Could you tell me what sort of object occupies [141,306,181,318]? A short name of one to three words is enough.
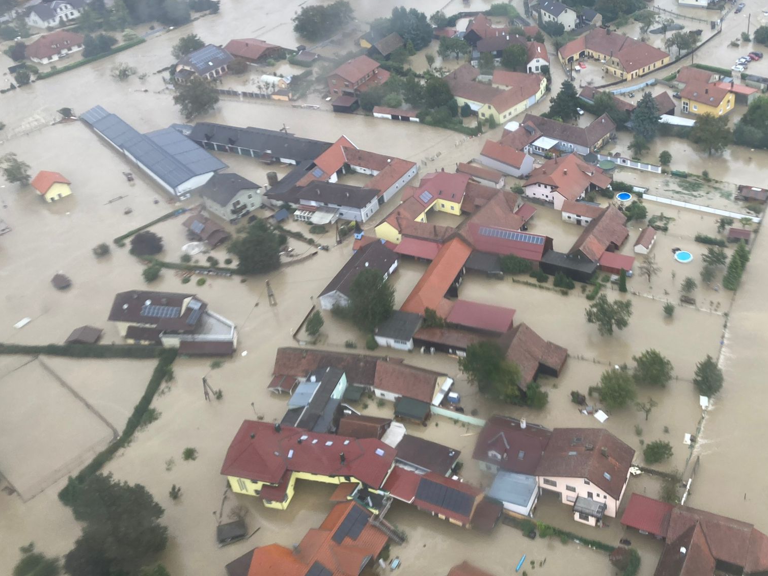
solar array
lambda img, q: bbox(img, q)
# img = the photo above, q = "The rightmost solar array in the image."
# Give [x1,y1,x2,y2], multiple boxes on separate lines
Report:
[479,227,545,245]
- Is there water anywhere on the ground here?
Yes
